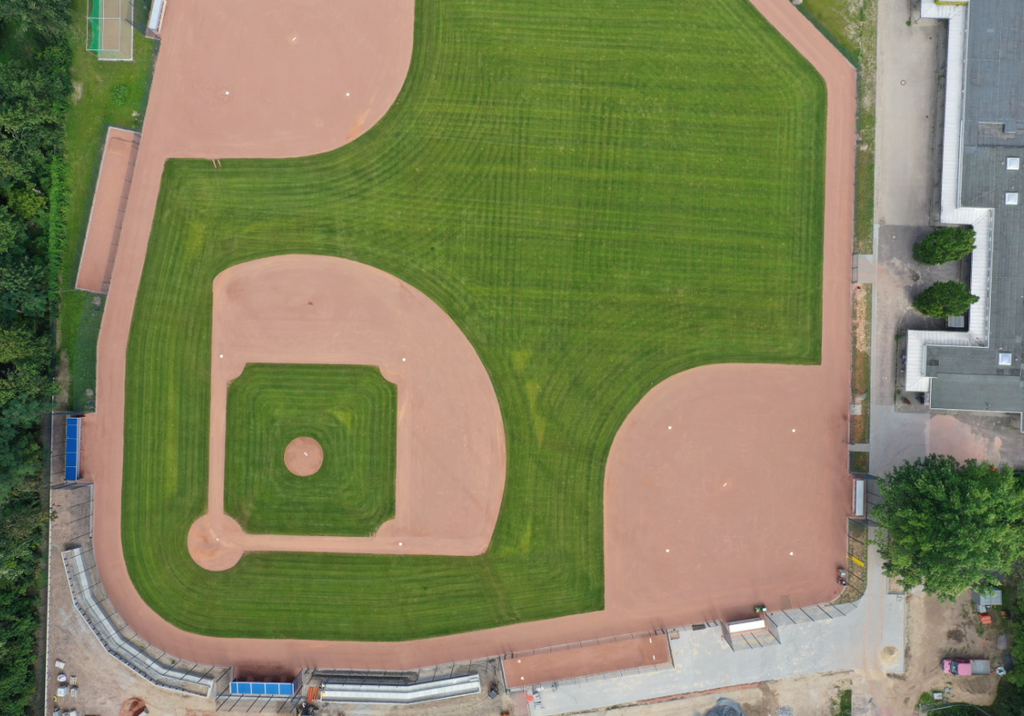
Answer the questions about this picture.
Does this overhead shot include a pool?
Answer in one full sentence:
No, there appears to be no pool in this shot.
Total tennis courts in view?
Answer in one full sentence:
There are no tennis courts in the image.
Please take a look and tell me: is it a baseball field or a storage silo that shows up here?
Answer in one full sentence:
There is a baseball field in the scene.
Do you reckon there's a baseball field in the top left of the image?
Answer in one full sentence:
Yes, in the top left of the image there is a baseball field.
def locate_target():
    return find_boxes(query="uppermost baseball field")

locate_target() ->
[145,0,413,157]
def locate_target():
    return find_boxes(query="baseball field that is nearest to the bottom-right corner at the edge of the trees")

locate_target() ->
[605,364,845,633]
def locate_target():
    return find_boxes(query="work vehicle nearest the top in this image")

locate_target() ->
[838,571,850,588]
